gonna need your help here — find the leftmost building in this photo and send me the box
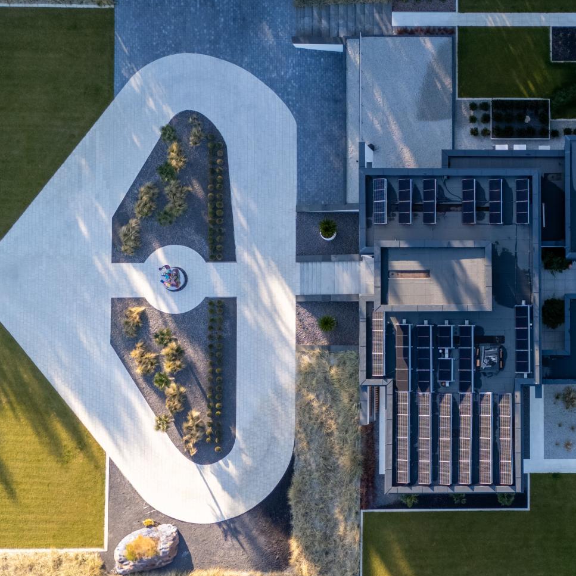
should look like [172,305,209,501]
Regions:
[345,36,454,205]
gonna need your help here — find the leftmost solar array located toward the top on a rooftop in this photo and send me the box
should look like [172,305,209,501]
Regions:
[373,177,390,225]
